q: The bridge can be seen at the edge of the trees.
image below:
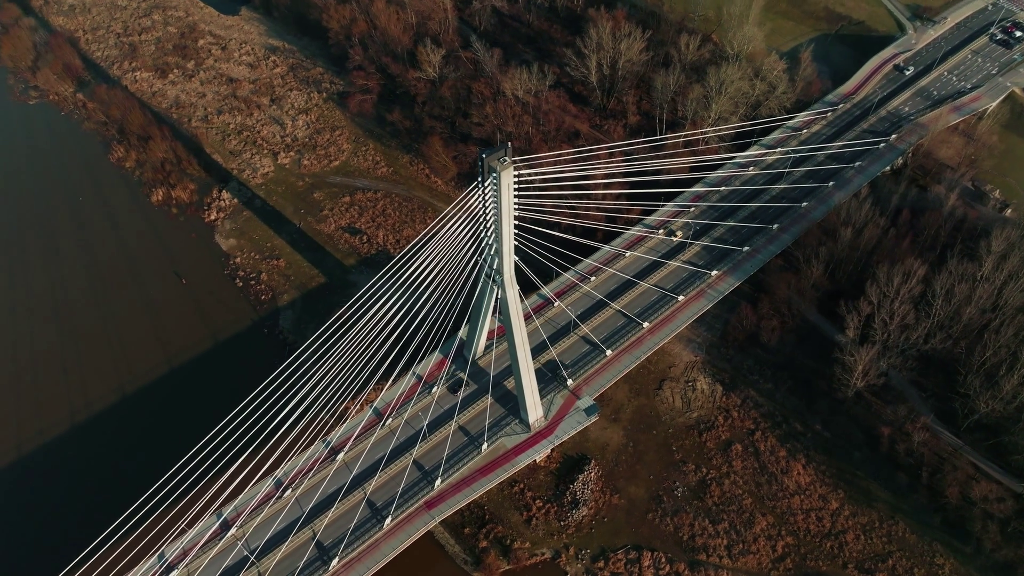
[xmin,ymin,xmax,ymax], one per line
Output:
[56,91,918,576]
